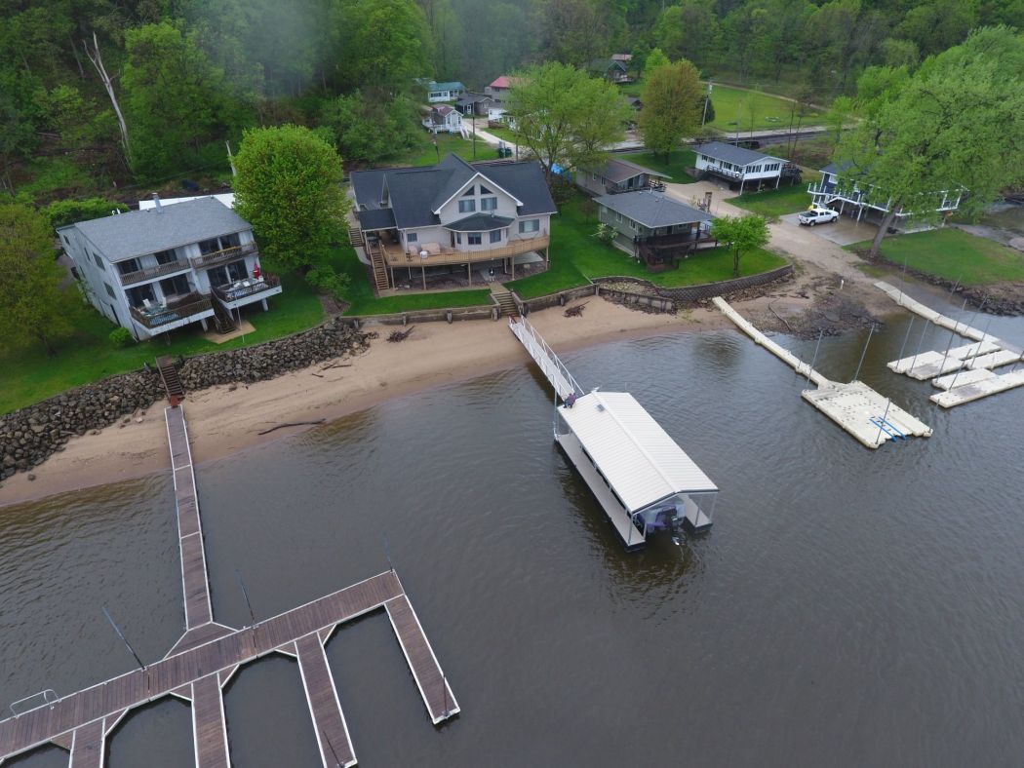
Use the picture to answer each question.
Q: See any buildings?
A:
Yes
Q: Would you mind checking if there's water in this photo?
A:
Yes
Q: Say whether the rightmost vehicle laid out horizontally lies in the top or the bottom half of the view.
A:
top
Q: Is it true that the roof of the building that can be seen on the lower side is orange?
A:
No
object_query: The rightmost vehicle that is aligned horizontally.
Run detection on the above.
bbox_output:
[794,206,837,226]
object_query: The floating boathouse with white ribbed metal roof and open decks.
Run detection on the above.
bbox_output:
[554,382,722,552]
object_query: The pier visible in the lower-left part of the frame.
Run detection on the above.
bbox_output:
[0,405,459,768]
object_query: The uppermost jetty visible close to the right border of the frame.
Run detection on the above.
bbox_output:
[877,285,1024,366]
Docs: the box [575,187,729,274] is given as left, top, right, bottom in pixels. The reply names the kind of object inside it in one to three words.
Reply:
house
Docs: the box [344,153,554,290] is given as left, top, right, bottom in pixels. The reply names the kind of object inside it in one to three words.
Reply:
house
